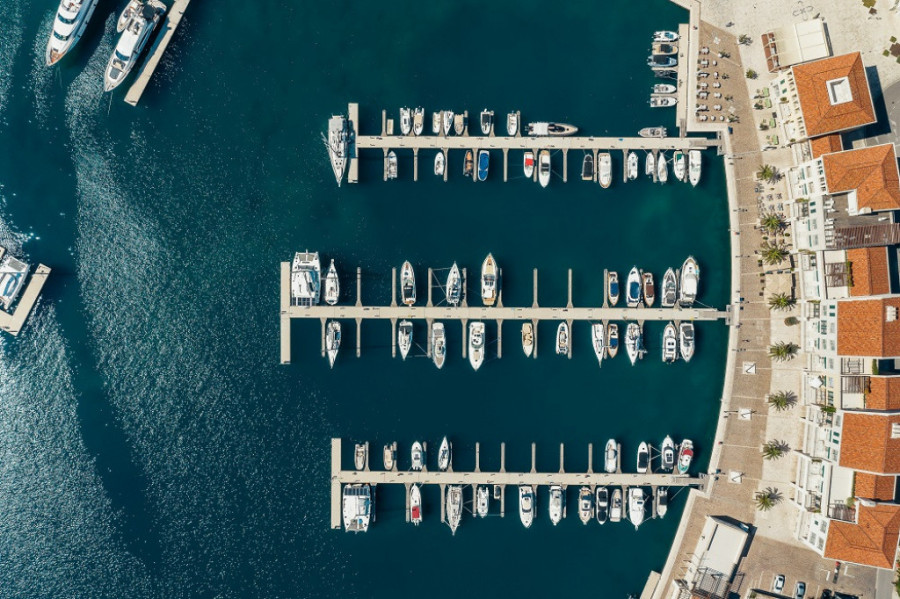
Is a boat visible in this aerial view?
Yes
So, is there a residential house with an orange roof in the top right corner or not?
Yes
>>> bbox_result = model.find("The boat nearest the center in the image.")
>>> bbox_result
[431,260,462,307]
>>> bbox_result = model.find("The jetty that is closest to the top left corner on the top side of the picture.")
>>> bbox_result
[124,0,195,106]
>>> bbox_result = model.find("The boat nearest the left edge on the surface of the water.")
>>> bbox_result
[0,255,31,311]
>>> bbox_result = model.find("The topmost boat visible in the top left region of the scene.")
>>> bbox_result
[115,0,138,32]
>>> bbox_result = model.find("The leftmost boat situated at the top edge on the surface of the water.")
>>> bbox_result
[46,0,98,85]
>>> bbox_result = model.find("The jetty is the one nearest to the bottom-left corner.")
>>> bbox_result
[0,263,53,336]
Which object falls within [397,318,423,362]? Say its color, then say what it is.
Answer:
white boat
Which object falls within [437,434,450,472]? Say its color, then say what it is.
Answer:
white boat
